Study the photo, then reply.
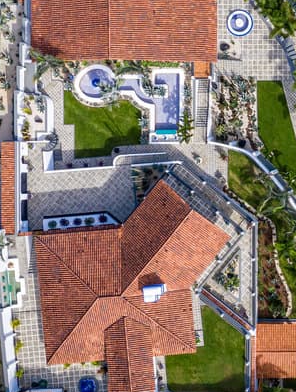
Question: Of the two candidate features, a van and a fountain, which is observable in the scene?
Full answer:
Of the two, only a fountain appears.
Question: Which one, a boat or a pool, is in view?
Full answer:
Of the two, only a pool appears.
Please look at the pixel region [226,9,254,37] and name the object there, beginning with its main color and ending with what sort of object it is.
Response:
white fountain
